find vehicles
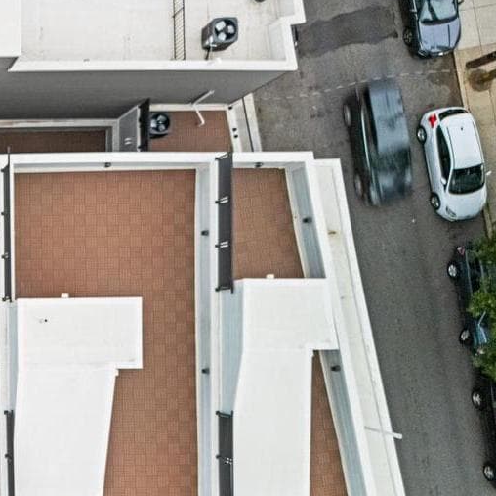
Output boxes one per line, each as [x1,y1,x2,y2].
[417,106,494,220]
[448,240,496,355]
[343,79,422,203]
[471,371,496,485]
[398,0,467,59]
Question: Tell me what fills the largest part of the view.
buildings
